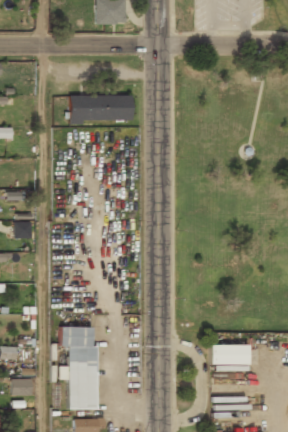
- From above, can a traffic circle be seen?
No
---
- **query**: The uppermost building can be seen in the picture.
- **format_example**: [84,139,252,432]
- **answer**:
[94,0,126,25]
